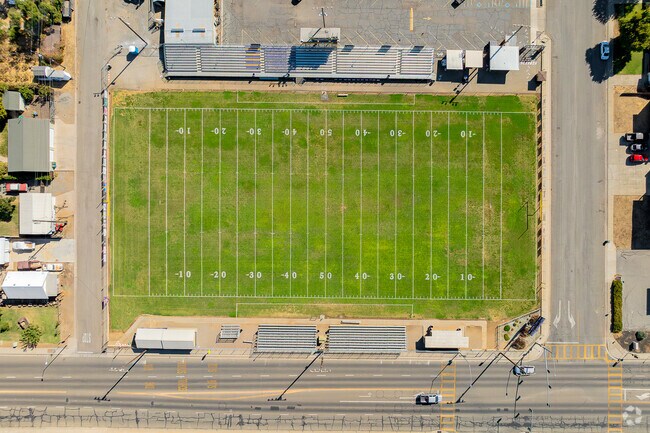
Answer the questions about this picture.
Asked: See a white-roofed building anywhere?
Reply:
Yes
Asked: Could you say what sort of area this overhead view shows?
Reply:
sports ground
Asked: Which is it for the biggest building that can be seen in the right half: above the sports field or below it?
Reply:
above it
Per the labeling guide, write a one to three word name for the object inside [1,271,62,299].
house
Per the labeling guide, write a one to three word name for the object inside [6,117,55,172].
building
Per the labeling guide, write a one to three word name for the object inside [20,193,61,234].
house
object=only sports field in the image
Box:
[105,88,541,336]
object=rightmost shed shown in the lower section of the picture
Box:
[161,326,198,349]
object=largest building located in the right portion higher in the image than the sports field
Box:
[487,46,519,72]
